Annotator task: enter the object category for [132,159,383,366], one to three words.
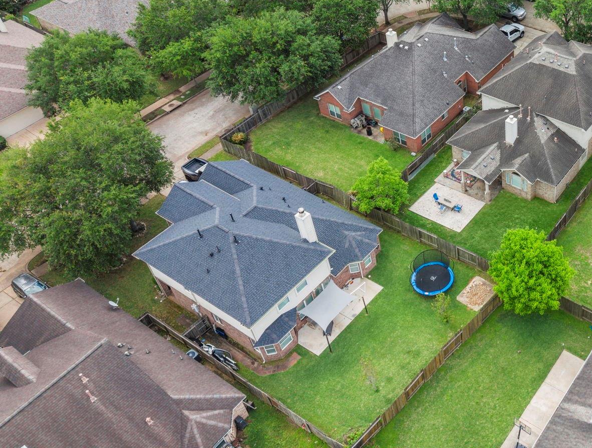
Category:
house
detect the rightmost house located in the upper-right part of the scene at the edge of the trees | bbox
[446,31,592,204]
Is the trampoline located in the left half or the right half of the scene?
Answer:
right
